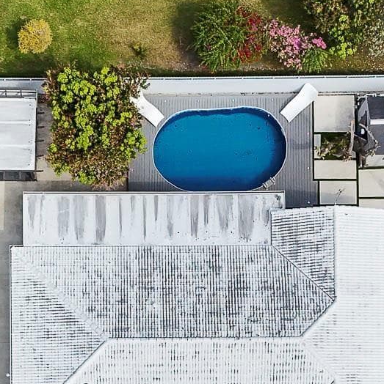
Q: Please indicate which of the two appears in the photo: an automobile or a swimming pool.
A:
swimming pool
